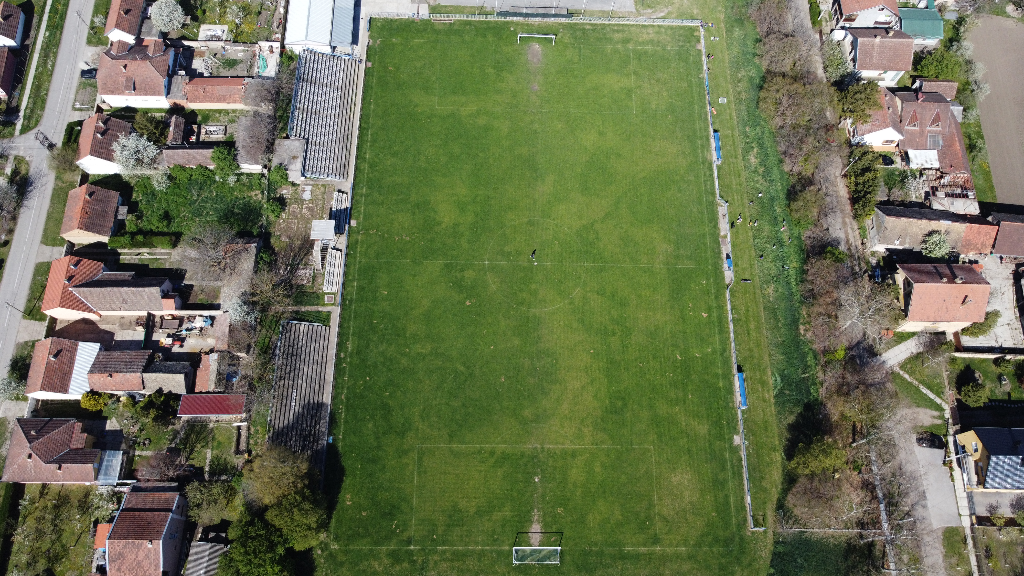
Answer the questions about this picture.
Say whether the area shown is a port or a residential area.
residential area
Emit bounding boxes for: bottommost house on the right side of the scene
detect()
[948,427,1024,491]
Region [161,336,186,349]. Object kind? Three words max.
vehicle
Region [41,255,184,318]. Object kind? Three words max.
house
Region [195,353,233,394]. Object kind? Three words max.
barn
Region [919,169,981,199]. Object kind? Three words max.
shed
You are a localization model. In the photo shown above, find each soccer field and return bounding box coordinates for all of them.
[315,18,761,576]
